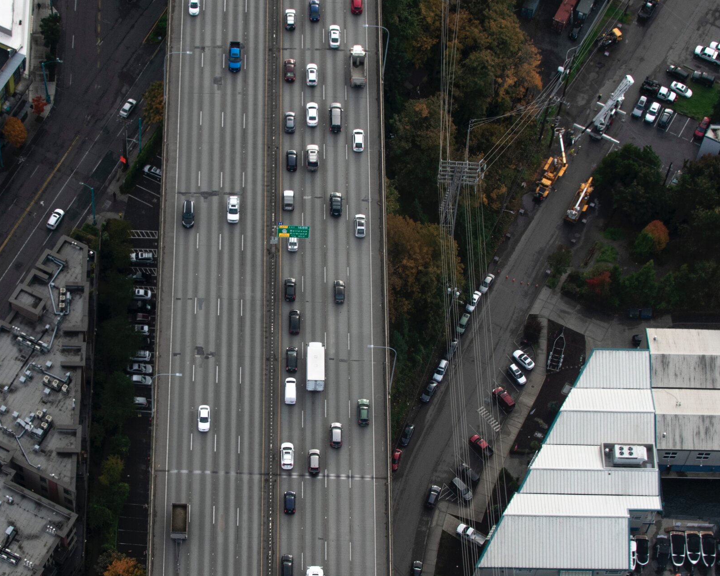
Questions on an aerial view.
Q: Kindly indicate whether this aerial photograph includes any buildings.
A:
Yes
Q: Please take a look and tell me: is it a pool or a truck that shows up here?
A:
truck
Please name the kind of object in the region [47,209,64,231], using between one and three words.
car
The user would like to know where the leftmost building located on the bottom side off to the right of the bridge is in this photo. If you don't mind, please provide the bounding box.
[474,348,662,576]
